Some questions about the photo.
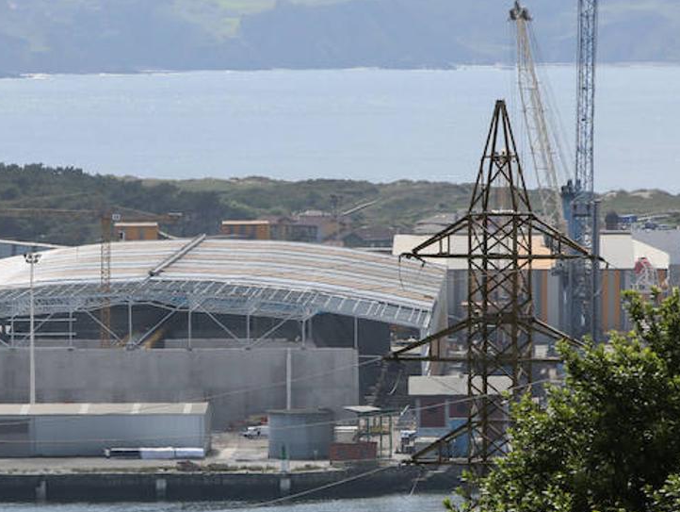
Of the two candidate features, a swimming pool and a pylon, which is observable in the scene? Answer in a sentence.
The one in the frame is a pylon.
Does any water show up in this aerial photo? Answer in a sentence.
Yes, some water is visible.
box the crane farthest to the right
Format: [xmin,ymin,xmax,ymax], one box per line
[564,0,603,367]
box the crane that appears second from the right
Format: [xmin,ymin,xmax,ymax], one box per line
[510,0,573,354]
